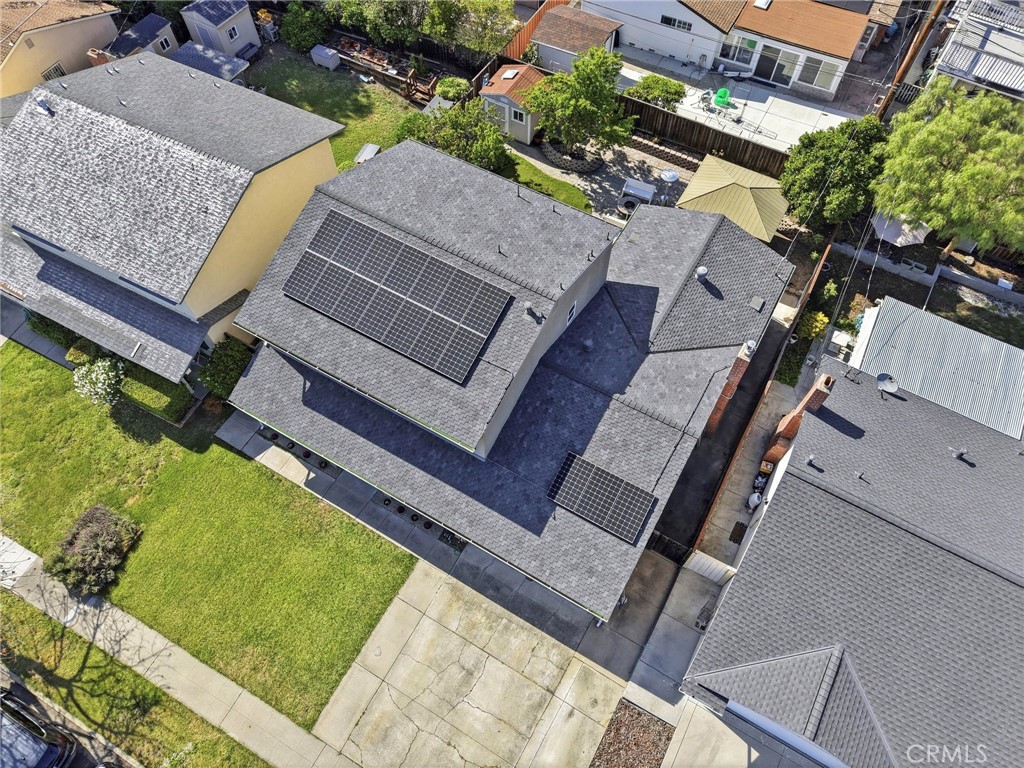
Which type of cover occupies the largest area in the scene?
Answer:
buildings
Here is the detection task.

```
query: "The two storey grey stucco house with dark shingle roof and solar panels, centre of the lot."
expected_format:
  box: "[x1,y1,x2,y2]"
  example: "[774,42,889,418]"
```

[225,139,798,625]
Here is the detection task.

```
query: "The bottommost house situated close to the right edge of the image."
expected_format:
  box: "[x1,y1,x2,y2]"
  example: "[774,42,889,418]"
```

[676,297,1024,768]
